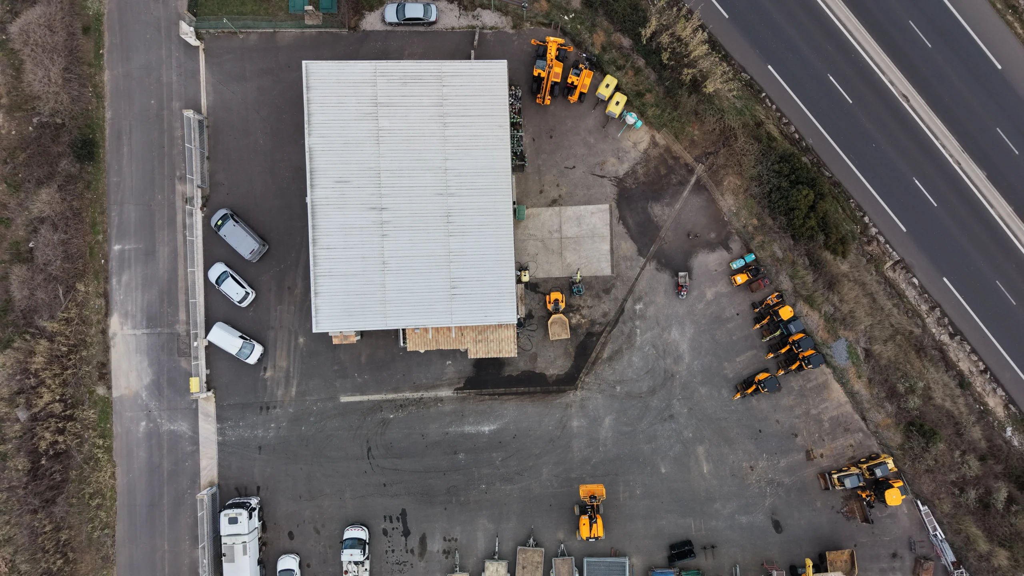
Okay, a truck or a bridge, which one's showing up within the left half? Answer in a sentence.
The feature located within the left half is a truck.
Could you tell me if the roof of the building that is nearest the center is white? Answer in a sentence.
Yes, the roof of the building that is nearest the center is indeed white.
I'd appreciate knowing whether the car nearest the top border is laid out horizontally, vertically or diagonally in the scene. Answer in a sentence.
The car nearest the top border runs horizontally in the image.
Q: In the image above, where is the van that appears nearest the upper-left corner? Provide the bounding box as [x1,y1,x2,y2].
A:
[213,211,266,265]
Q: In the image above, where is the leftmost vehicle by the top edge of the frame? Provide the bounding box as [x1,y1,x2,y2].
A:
[383,2,441,30]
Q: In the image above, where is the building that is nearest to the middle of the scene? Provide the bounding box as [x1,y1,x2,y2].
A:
[302,60,518,359]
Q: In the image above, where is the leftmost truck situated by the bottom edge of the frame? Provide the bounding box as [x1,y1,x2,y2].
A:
[221,490,268,576]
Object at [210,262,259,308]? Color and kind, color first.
white car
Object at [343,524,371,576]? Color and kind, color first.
white truck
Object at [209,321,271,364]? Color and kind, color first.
white van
